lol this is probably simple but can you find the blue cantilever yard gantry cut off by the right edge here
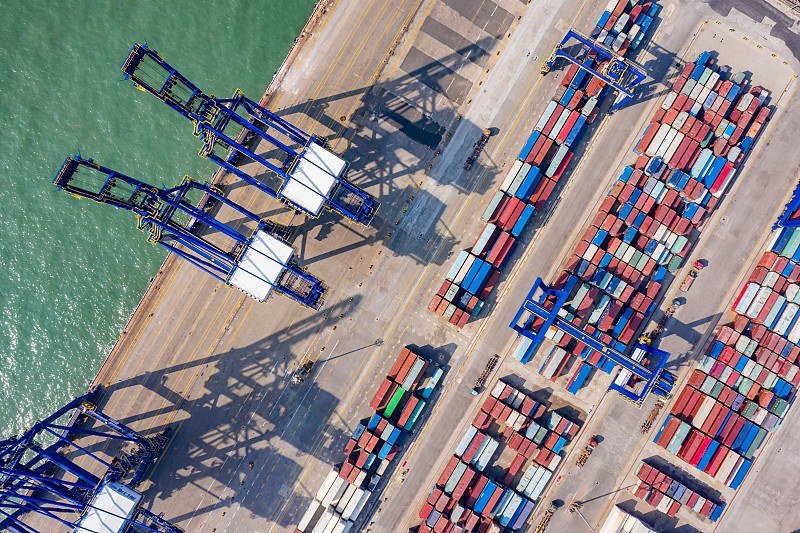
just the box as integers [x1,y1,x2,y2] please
[771,183,800,232]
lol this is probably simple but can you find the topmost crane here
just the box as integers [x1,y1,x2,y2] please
[538,23,652,118]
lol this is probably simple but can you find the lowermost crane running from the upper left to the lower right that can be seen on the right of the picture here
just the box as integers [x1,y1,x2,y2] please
[508,275,691,410]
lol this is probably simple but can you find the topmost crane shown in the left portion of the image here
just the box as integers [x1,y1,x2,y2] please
[120,38,385,229]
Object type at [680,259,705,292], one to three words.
truck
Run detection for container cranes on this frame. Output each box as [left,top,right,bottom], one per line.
[771,183,800,232]
[0,386,177,533]
[538,23,652,118]
[508,275,691,410]
[52,150,333,317]
[120,38,385,229]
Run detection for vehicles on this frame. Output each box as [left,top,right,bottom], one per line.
[641,402,663,435]
[648,296,684,338]
[536,501,561,533]
[577,438,599,468]
[466,125,493,166]
[680,259,705,292]
[470,353,499,396]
